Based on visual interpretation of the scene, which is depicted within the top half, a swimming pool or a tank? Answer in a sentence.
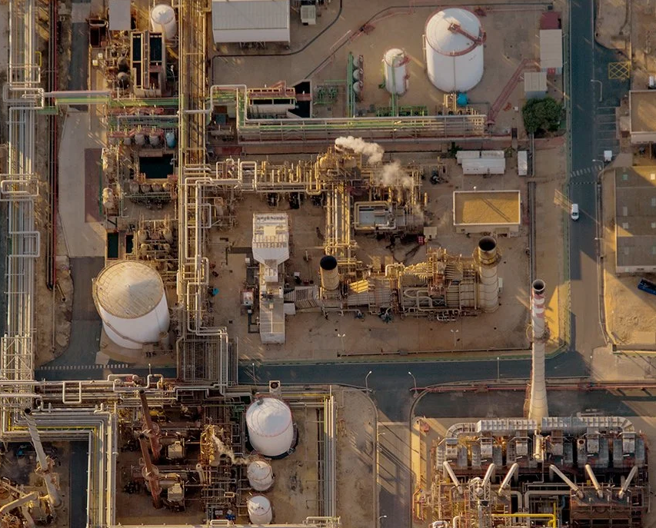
Visible within the top half is a tank.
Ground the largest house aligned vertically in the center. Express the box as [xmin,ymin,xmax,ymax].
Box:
[252,212,292,341]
